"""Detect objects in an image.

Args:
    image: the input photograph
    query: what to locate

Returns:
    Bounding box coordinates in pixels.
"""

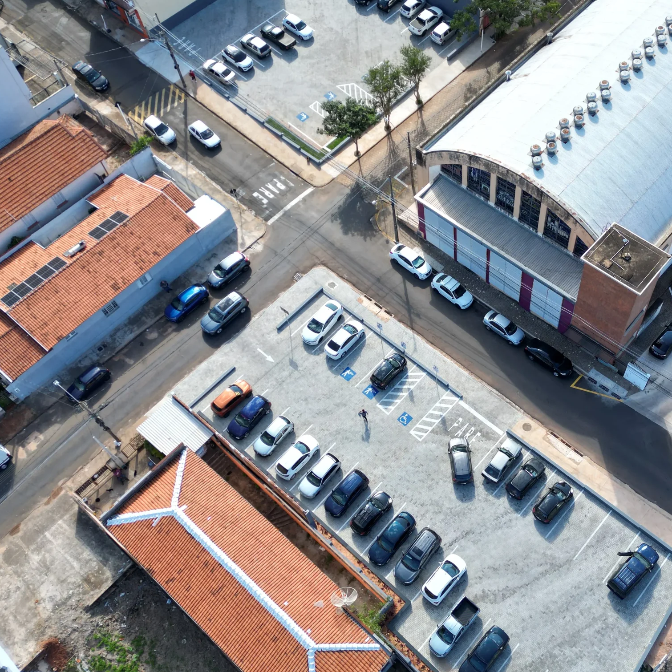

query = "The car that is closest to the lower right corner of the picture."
[610,545,659,600]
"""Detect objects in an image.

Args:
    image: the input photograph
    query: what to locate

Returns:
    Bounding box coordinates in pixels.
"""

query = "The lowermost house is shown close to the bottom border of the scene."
[107,448,389,672]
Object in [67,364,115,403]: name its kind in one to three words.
car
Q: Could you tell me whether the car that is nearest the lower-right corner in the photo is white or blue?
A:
blue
